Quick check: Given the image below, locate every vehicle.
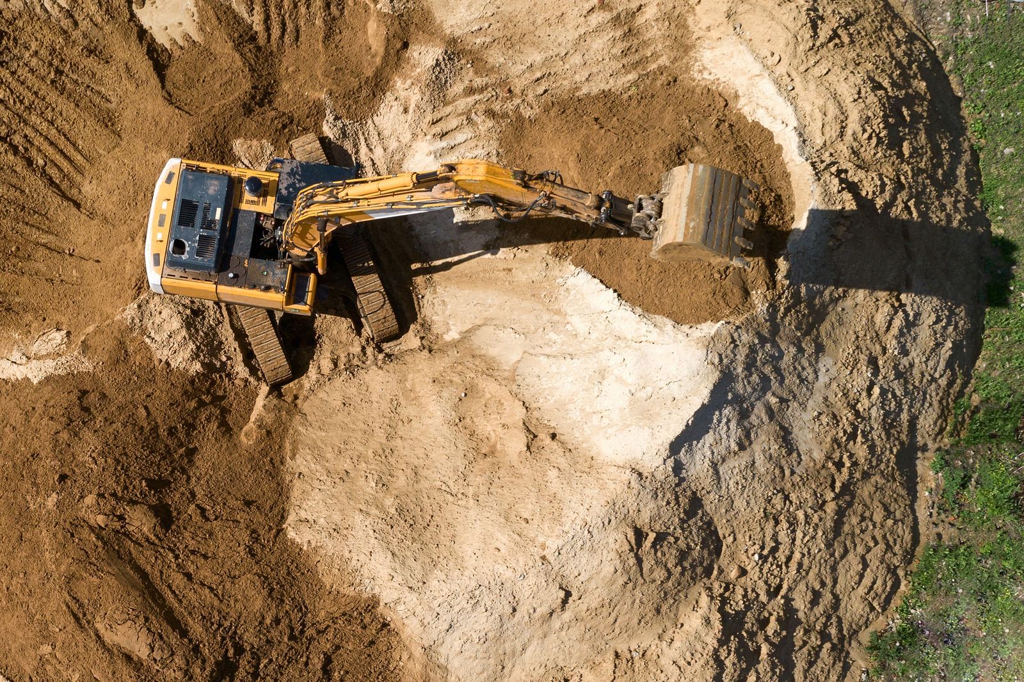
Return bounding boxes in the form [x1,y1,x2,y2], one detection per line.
[145,129,761,394]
